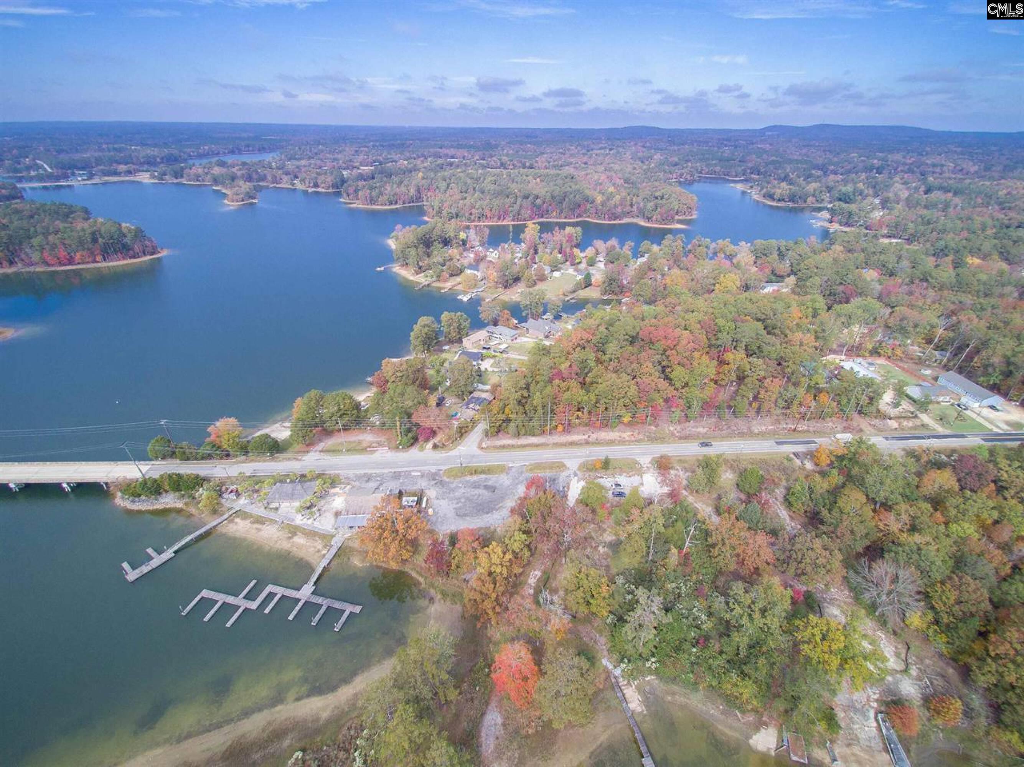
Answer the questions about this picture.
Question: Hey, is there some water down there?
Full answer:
Yes, some water is visible.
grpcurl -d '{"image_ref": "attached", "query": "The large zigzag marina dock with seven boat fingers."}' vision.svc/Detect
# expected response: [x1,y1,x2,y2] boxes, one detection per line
[178,580,364,632]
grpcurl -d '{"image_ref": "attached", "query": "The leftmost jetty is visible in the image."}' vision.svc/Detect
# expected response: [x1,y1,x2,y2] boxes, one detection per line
[121,544,172,582]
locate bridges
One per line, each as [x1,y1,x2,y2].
[0,456,173,493]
